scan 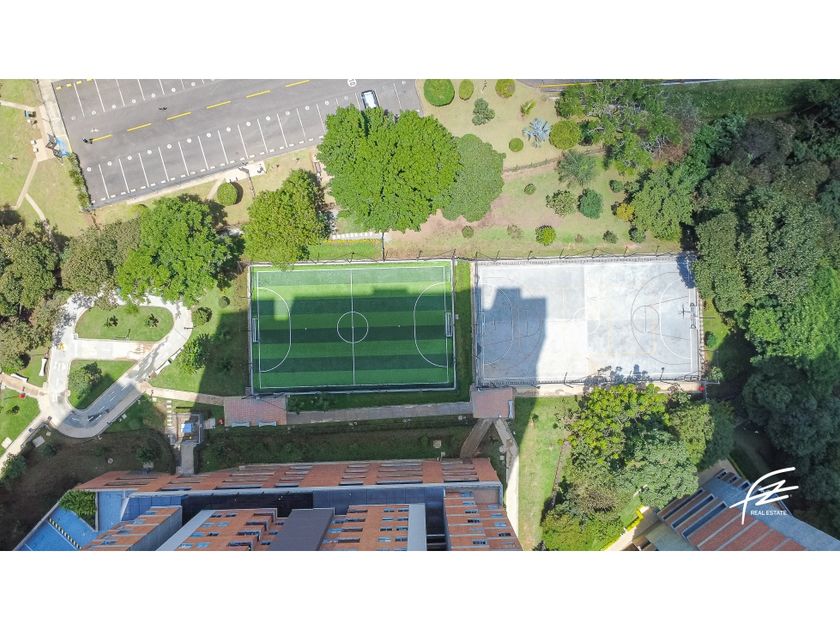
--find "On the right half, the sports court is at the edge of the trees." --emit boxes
[473,253,701,388]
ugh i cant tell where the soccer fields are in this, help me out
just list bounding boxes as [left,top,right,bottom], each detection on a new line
[249,259,458,393]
